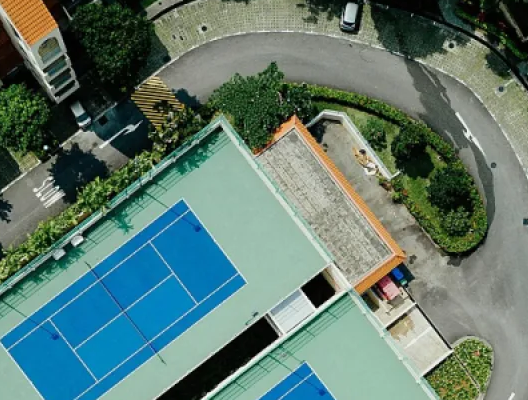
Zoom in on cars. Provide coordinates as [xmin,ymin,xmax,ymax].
[67,94,97,134]
[338,0,363,35]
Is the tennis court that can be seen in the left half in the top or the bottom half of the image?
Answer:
bottom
